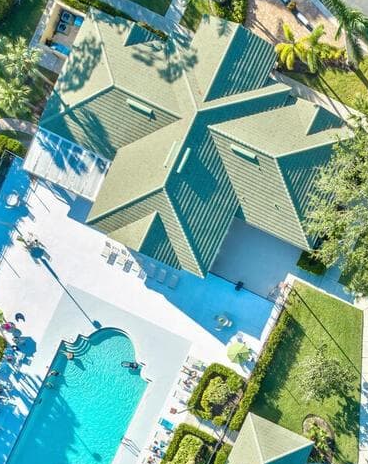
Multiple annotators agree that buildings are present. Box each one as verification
[39,8,355,277]
[226,411,314,464]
